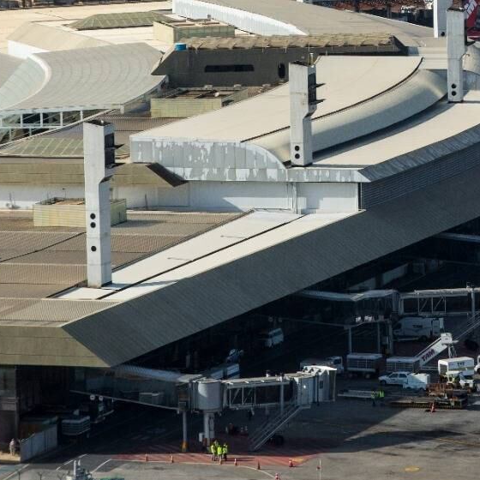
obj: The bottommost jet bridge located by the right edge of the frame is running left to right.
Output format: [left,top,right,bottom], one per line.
[303,287,480,359]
